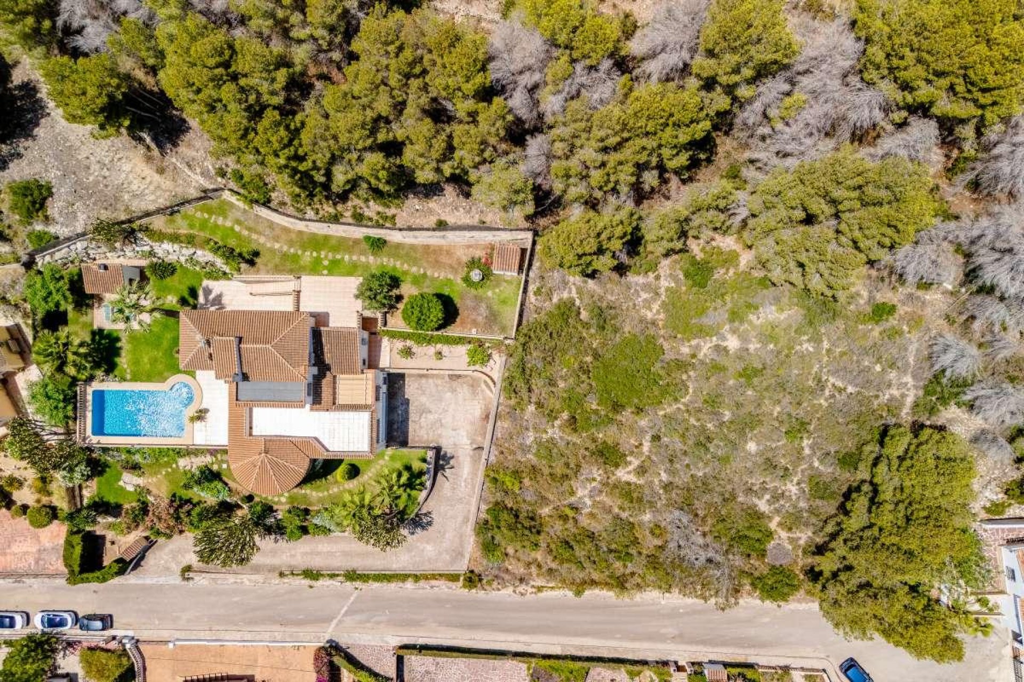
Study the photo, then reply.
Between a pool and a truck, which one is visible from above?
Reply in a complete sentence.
Of the two, only a pool appears.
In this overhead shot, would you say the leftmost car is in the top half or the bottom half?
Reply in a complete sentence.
You can find the leftmost car in the bottom half.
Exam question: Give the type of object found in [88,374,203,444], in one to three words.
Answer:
swimming pool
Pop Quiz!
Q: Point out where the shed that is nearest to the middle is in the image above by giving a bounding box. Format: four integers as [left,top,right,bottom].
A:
[491,243,522,276]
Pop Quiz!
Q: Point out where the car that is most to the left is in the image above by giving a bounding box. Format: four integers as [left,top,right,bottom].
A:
[0,608,27,631]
